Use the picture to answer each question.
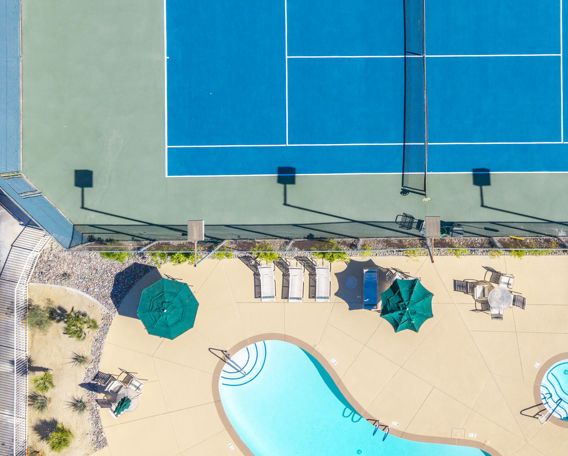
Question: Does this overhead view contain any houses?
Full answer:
No, I can't see a single house in this photo.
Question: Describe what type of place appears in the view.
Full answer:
What you see here is a sports ground.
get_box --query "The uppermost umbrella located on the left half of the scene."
[137,278,199,340]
